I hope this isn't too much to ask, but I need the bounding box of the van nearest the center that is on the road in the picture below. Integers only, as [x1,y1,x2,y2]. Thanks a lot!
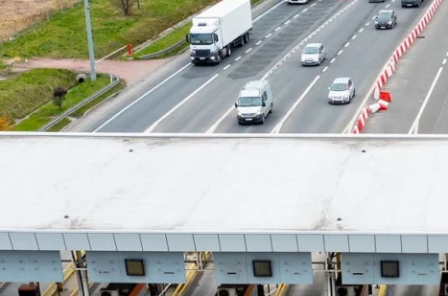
[239,82,275,121]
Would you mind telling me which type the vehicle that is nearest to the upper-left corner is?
truck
